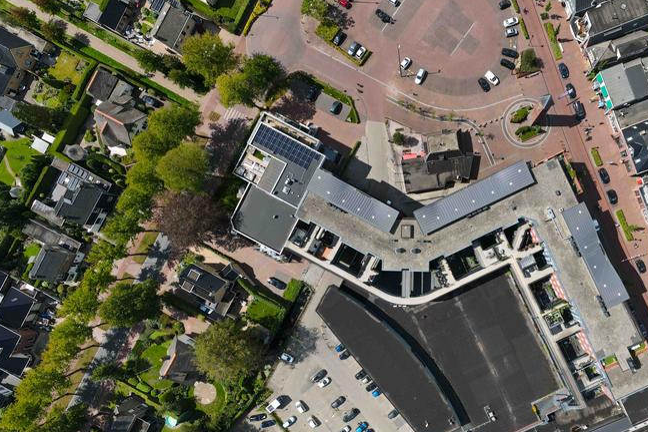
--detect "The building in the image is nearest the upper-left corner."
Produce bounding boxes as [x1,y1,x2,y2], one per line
[0,26,39,67]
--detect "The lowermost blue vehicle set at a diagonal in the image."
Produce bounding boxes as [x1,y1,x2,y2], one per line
[354,418,370,432]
